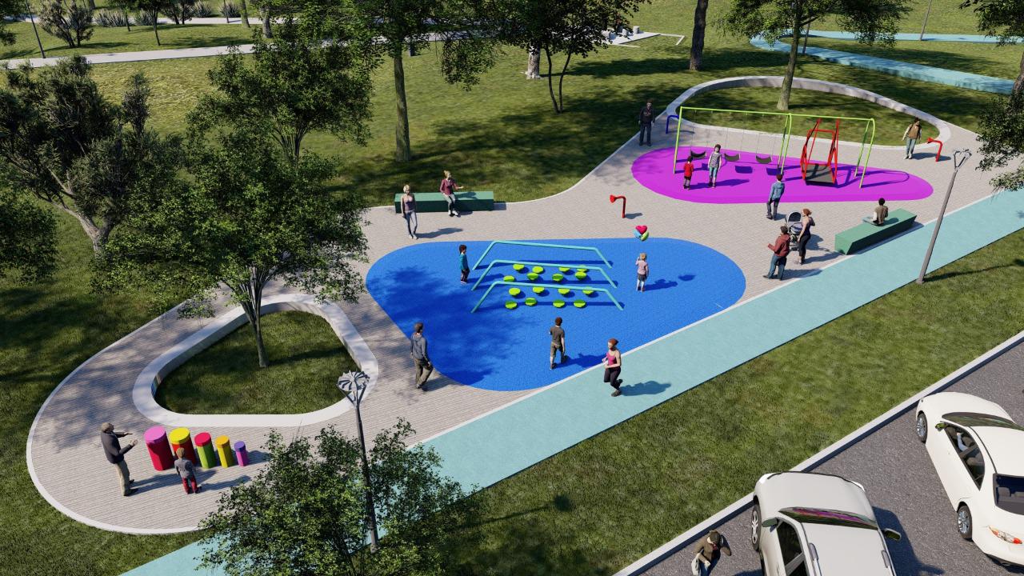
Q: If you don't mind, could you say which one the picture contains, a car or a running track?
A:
car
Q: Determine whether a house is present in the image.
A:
No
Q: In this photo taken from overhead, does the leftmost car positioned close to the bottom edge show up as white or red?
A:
white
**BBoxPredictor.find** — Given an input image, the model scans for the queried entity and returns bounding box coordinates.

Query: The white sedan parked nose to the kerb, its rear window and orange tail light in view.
[920,395,1024,572]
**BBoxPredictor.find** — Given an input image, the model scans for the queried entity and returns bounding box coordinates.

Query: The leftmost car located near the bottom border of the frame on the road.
[753,472,895,576]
